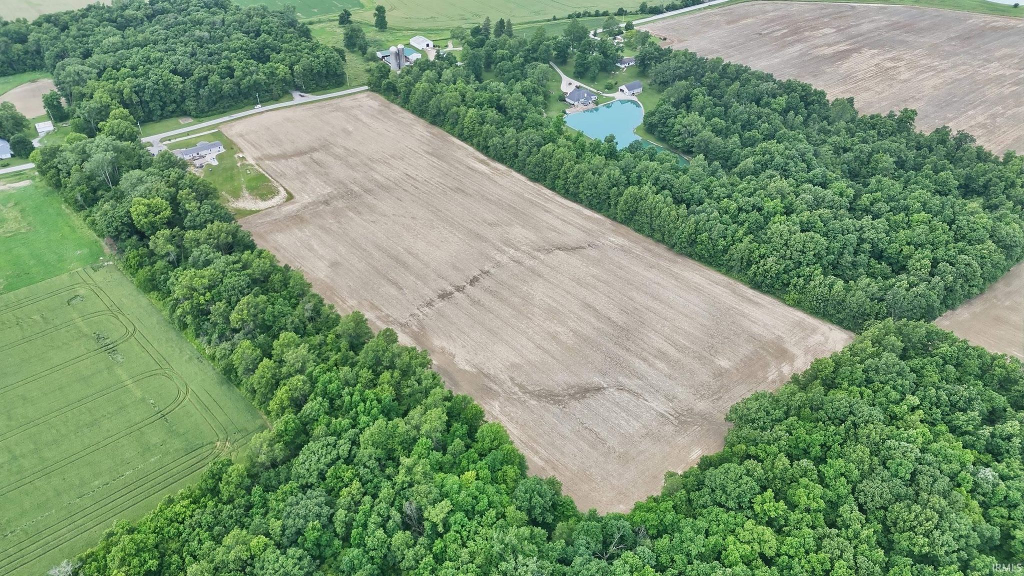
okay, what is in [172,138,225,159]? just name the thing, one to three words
house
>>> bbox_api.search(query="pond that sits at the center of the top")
[564,99,676,158]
